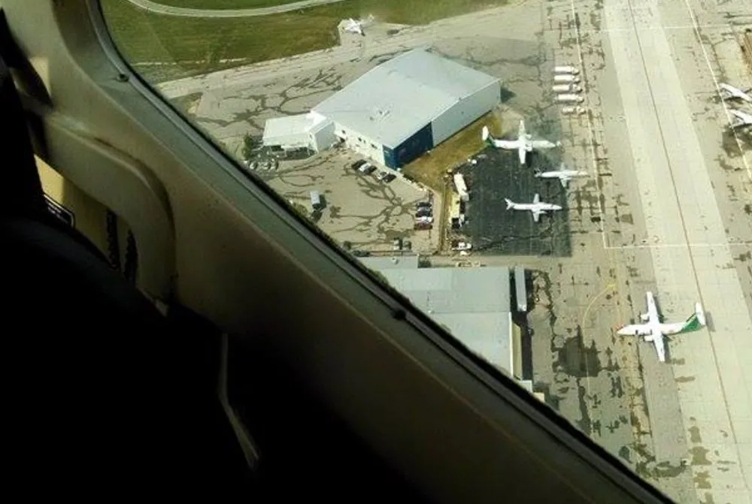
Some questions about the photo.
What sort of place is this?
airport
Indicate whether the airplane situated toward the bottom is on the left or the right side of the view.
right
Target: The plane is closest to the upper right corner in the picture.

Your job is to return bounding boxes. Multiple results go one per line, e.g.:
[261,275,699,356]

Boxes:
[719,81,752,103]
